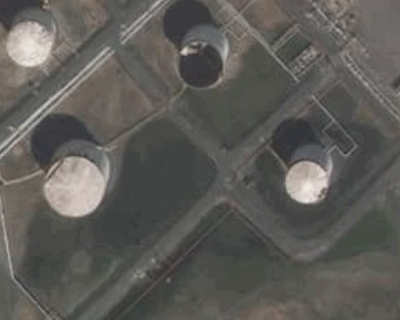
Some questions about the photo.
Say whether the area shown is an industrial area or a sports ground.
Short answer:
industrial area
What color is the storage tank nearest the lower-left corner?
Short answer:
white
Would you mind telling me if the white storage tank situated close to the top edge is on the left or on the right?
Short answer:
left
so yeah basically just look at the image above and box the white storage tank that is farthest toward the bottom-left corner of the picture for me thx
[45,137,111,217]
